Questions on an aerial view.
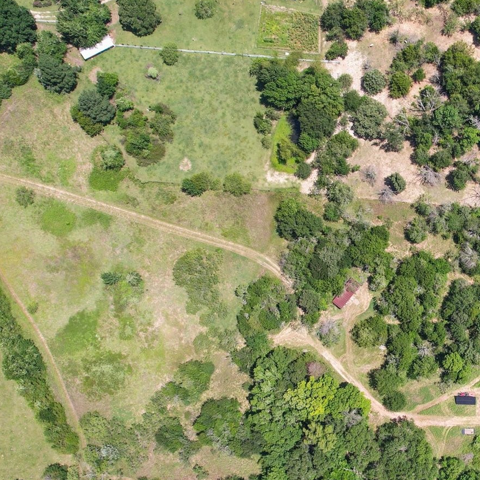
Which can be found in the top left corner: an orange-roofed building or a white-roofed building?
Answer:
white-roofed building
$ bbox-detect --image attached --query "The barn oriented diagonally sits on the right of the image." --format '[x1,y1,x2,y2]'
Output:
[332,279,362,312]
